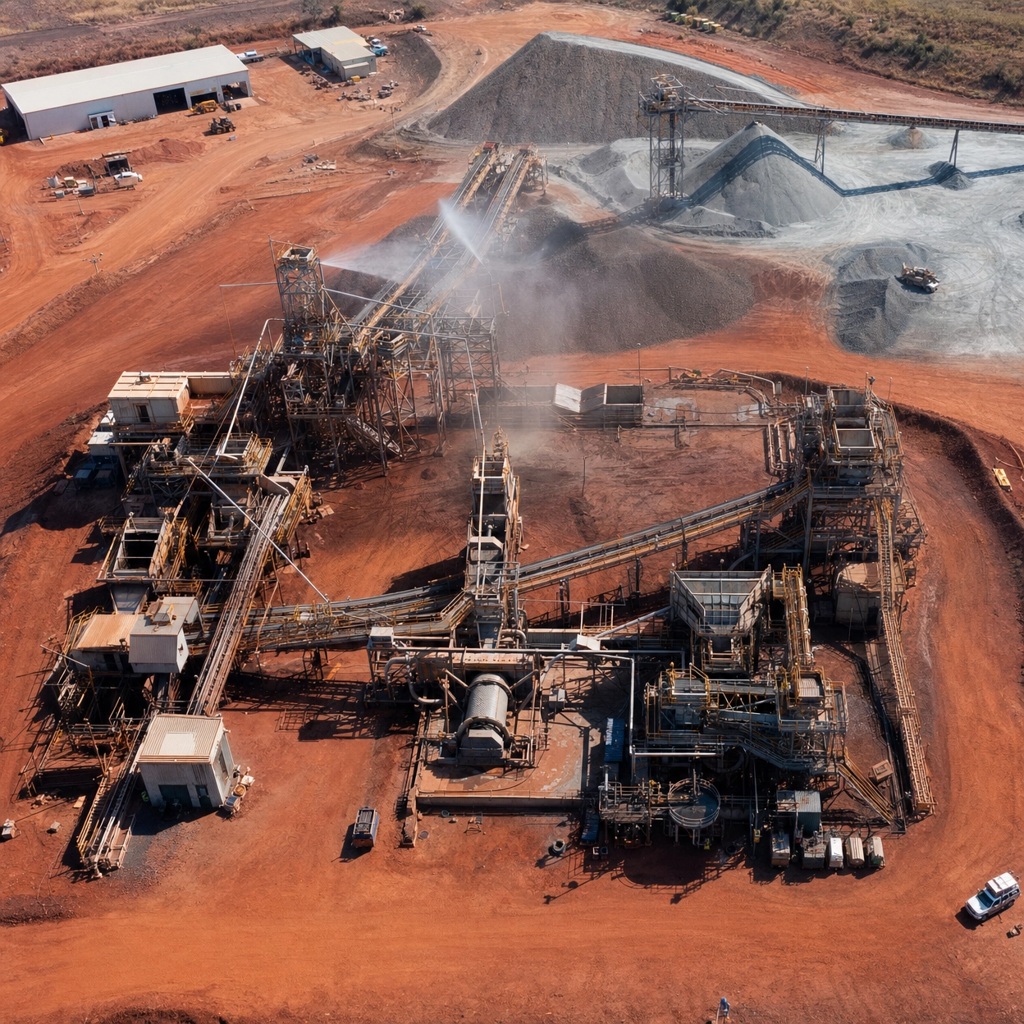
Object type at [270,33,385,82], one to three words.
shed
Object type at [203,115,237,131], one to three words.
work vehicle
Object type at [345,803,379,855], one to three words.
truck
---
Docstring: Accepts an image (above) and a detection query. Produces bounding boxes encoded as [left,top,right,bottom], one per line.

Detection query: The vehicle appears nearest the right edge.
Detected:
[964,873,1024,921]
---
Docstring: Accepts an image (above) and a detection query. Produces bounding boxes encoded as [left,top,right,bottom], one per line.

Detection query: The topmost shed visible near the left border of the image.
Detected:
[0,53,273,139]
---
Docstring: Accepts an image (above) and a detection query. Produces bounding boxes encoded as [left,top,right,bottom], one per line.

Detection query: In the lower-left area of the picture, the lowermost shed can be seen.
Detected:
[135,711,243,807]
